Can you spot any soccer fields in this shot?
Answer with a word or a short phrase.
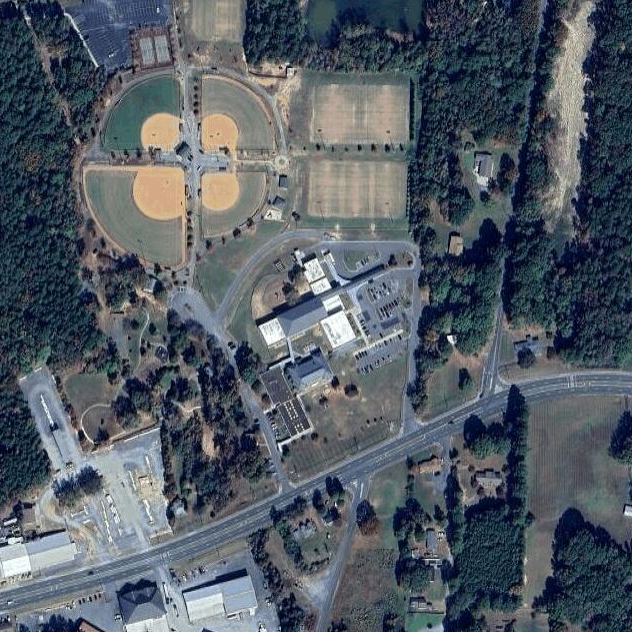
Yes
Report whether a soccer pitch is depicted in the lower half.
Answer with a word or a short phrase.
No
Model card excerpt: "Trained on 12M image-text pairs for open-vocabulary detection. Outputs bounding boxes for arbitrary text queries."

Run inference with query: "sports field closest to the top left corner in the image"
[190,0,244,42]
